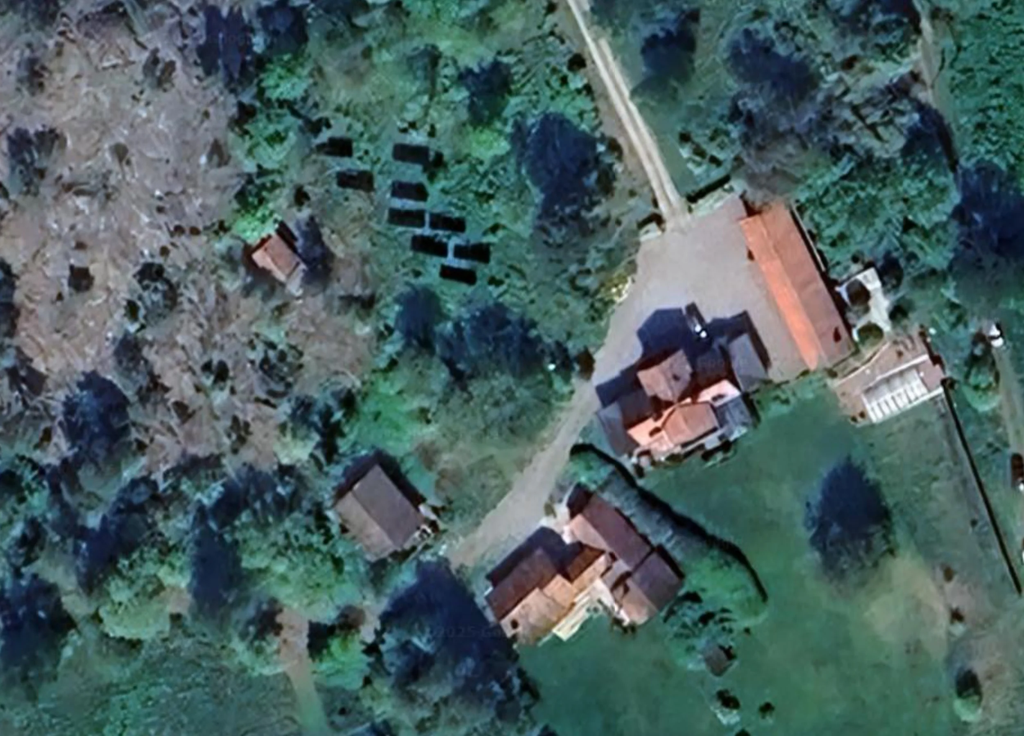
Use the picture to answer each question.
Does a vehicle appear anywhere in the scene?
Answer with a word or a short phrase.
Yes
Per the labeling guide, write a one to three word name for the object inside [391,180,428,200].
solar array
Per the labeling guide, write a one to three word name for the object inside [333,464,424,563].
shed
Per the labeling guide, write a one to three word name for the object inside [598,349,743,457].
house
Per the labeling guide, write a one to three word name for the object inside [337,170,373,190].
solar array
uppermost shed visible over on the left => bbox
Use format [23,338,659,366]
[252,234,301,282]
